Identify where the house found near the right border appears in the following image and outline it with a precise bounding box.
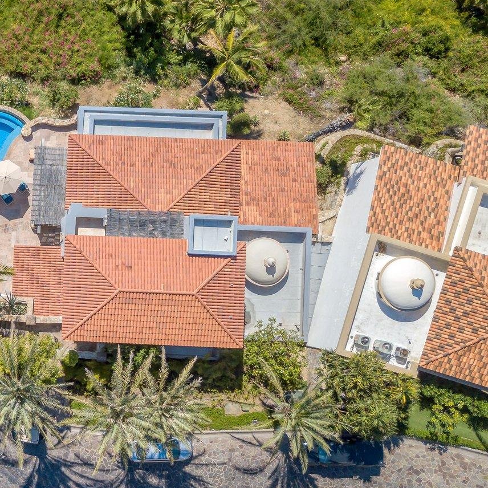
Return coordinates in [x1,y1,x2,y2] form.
[305,125,488,393]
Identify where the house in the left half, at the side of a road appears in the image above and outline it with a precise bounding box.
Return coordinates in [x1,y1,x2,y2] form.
[11,107,319,361]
